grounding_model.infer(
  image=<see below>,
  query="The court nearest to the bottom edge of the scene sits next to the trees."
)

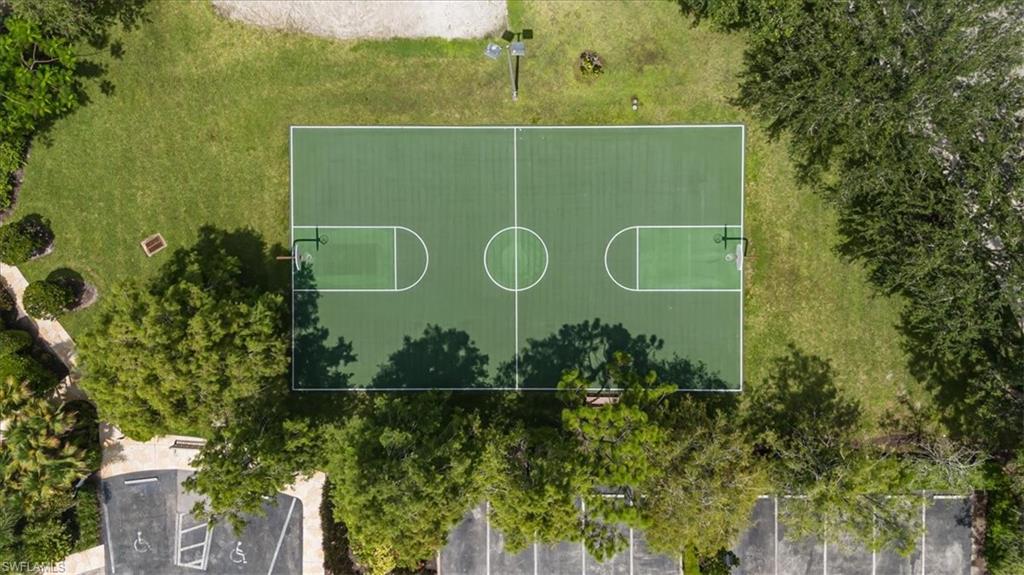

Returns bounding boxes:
[289,124,745,392]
